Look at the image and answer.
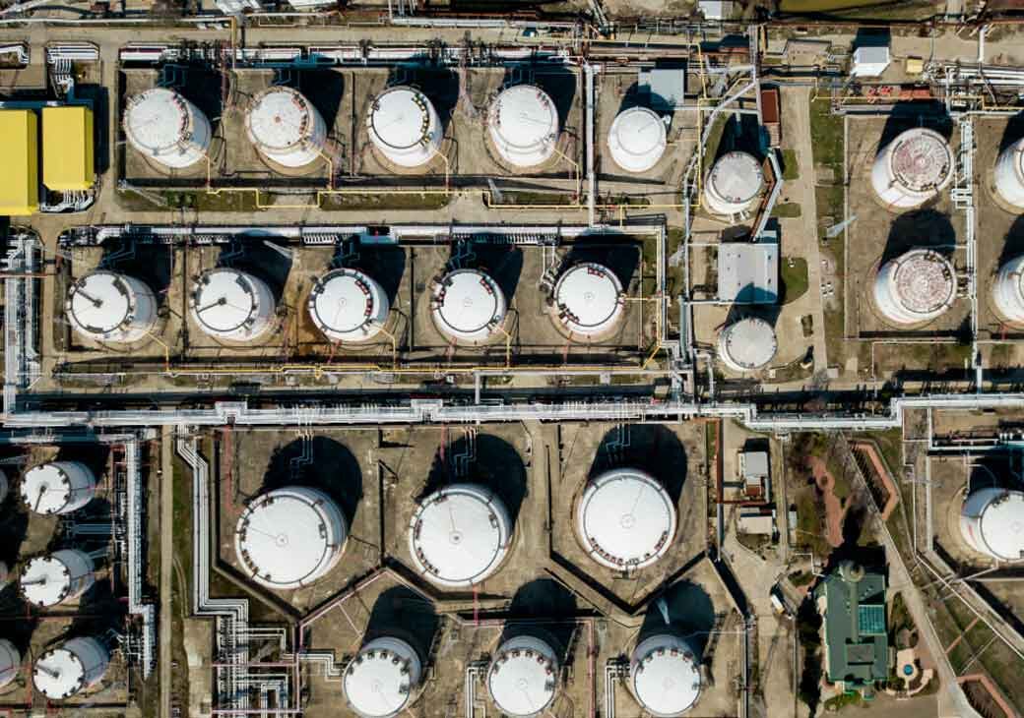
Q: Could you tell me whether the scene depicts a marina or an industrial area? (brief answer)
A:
industrial area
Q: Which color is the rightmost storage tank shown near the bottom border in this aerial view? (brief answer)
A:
white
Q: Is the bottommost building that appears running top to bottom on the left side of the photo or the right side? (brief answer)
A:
right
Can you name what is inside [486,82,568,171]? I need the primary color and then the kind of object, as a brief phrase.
white storage tank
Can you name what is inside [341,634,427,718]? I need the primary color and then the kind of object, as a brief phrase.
white storage tank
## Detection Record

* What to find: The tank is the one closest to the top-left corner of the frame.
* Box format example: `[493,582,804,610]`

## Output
[124,86,216,172]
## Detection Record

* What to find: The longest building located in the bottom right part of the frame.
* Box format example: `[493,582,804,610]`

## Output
[820,556,885,697]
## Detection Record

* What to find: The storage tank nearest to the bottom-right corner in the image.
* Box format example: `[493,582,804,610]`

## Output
[954,476,1024,569]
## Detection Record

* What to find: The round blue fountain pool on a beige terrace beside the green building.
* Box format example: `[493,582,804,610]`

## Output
[897,650,918,690]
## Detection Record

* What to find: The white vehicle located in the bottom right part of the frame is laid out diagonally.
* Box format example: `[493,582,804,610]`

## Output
[770,594,787,615]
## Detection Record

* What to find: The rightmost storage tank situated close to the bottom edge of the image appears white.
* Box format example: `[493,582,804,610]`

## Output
[626,631,705,717]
